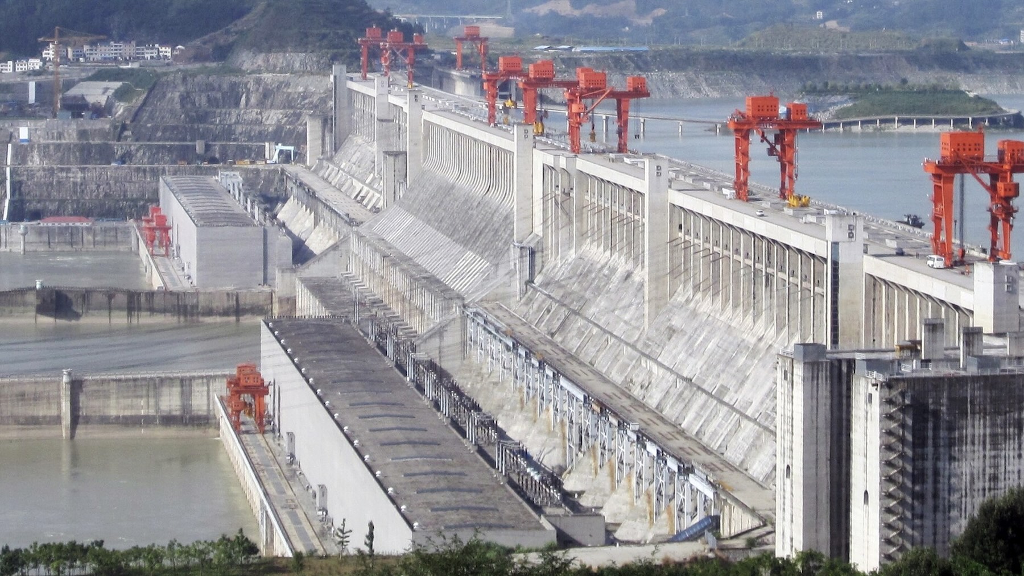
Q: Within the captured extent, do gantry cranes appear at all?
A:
Yes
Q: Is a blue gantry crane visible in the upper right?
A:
No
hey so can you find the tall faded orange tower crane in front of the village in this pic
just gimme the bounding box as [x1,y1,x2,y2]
[38,27,106,114]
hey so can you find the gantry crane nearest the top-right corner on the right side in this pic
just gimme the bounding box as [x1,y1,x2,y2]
[919,129,1024,265]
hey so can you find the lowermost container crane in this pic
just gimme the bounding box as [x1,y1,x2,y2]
[234,361,277,432]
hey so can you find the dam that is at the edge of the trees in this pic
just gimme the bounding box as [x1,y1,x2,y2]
[278,73,1024,575]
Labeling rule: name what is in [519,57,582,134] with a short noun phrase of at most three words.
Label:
container crane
